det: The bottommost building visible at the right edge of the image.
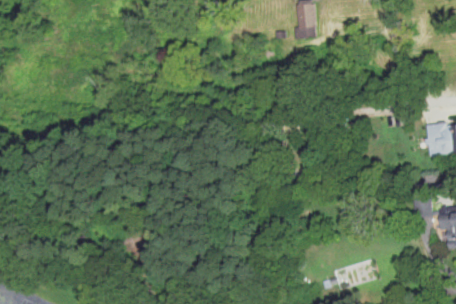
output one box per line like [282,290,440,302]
[439,206,456,248]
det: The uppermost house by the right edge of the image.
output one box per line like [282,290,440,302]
[424,122,454,156]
